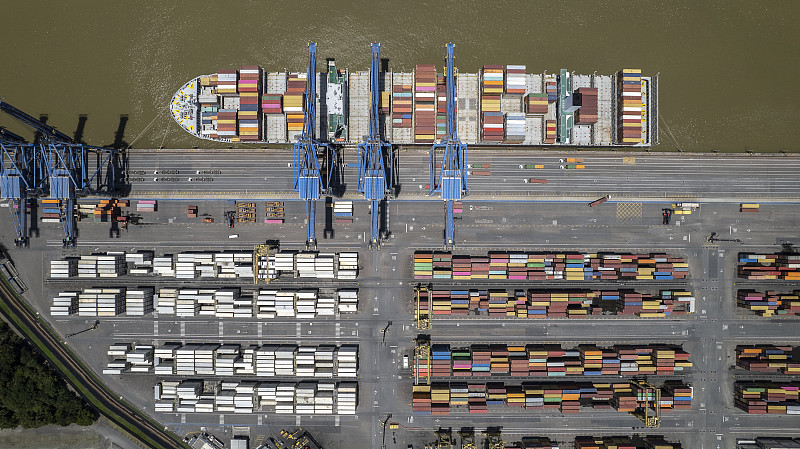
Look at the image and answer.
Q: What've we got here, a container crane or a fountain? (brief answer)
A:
container crane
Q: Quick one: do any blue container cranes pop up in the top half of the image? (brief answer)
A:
Yes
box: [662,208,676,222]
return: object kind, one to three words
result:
work vehicle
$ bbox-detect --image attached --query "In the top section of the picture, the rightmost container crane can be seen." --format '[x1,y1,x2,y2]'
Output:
[423,43,470,251]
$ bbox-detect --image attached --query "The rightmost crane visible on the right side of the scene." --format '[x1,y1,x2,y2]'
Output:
[635,375,662,426]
